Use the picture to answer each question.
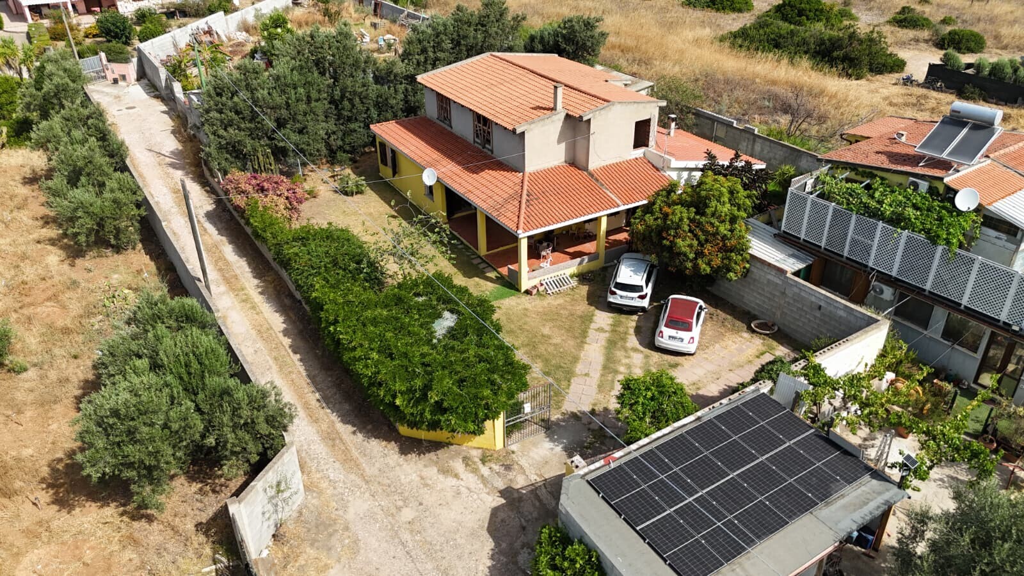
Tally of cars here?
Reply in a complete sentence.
Looking from above, you can make out 2 cars.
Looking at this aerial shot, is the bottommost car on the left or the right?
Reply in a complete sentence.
You can find the bottommost car on the right side of the picture.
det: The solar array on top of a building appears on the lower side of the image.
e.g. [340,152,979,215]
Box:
[589,392,875,576]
